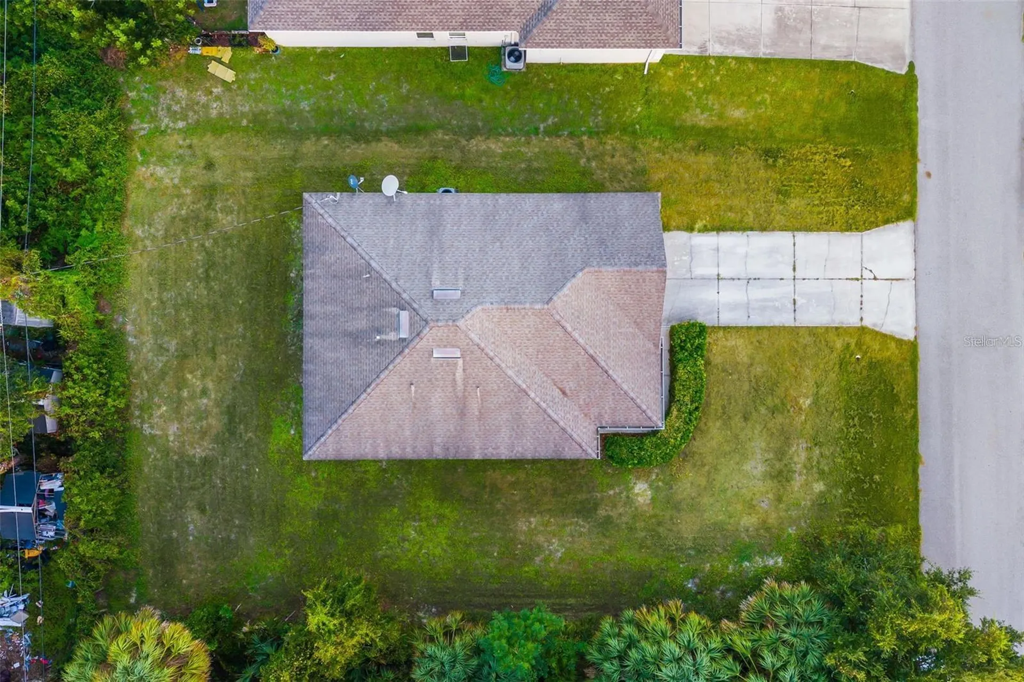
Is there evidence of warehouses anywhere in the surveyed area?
No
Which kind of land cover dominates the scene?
grass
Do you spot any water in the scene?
No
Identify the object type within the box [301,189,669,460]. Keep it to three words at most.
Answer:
house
